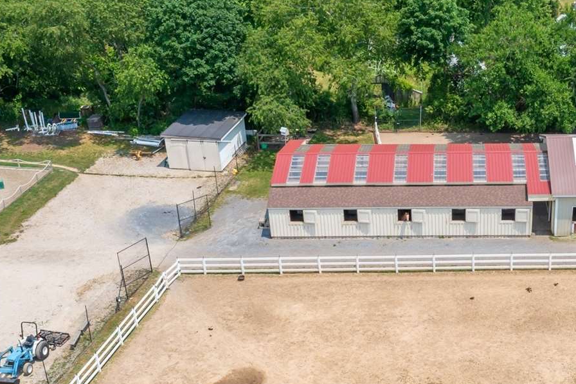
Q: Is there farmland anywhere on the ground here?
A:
Yes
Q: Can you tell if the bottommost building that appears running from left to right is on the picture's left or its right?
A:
right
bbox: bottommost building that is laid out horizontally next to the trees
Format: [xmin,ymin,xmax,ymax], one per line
[265,142,552,237]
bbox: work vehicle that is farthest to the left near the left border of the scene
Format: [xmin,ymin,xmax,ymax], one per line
[0,322,44,384]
